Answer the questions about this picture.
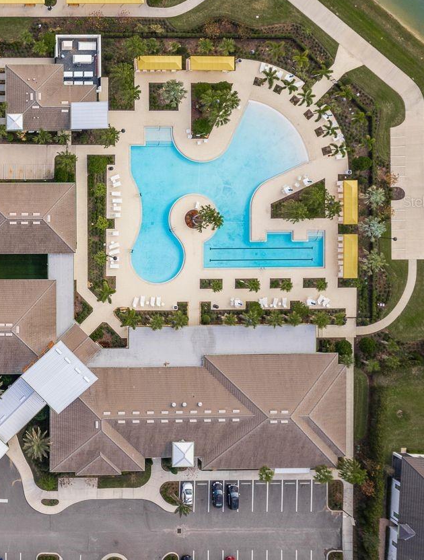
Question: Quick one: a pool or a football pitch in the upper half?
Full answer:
It is a pool that can be seen in the upper half.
